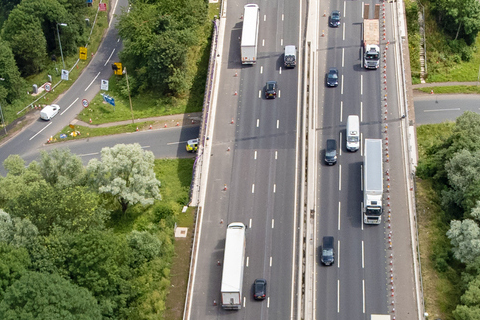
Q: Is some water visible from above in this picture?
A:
No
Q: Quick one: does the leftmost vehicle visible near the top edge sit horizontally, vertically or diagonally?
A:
vertically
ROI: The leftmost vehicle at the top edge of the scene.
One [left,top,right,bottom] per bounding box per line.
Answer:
[241,3,261,63]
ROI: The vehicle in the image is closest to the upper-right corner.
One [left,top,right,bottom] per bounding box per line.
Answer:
[364,1,382,68]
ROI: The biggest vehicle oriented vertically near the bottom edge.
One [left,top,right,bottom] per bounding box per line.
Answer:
[221,221,248,310]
